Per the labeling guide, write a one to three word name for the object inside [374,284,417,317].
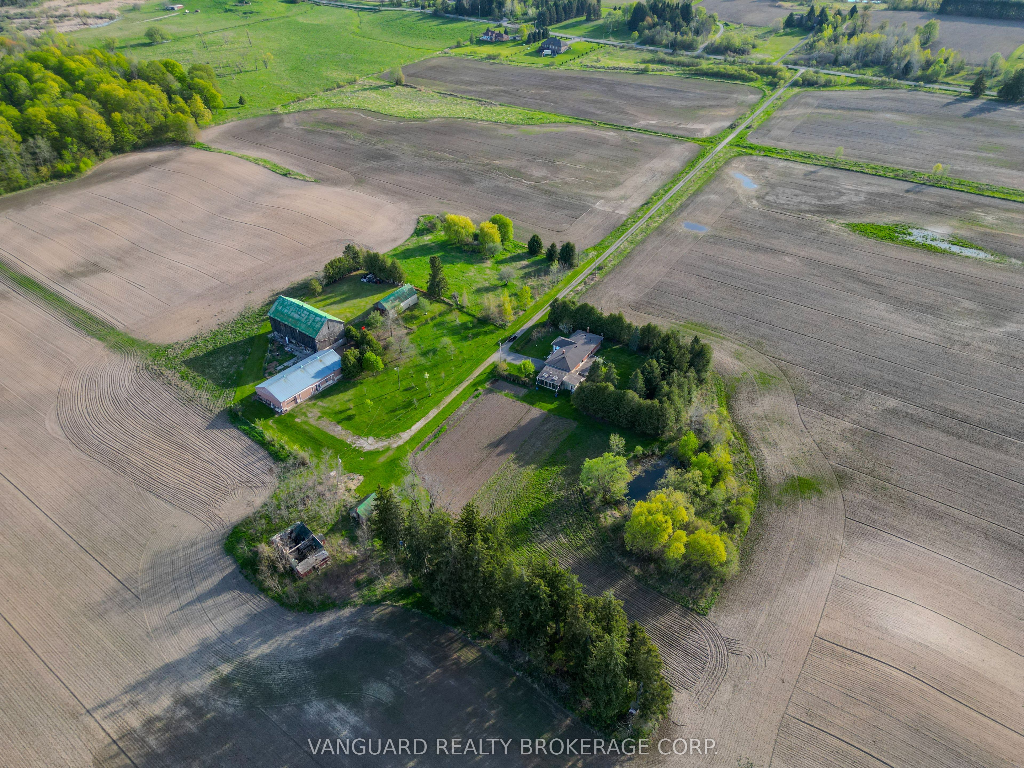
barn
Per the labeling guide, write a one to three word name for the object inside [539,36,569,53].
house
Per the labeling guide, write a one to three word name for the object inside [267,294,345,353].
barn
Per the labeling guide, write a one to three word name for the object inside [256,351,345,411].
shed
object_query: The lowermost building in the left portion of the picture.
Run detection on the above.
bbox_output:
[269,521,334,581]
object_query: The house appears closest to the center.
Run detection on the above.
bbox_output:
[533,326,603,391]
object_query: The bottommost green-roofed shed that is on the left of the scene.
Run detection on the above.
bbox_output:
[349,490,381,523]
